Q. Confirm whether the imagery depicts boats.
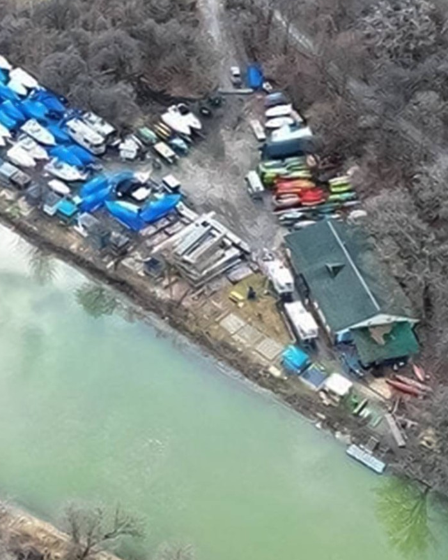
Yes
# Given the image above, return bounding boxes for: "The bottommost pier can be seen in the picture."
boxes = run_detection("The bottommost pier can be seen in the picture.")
[345,444,387,475]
